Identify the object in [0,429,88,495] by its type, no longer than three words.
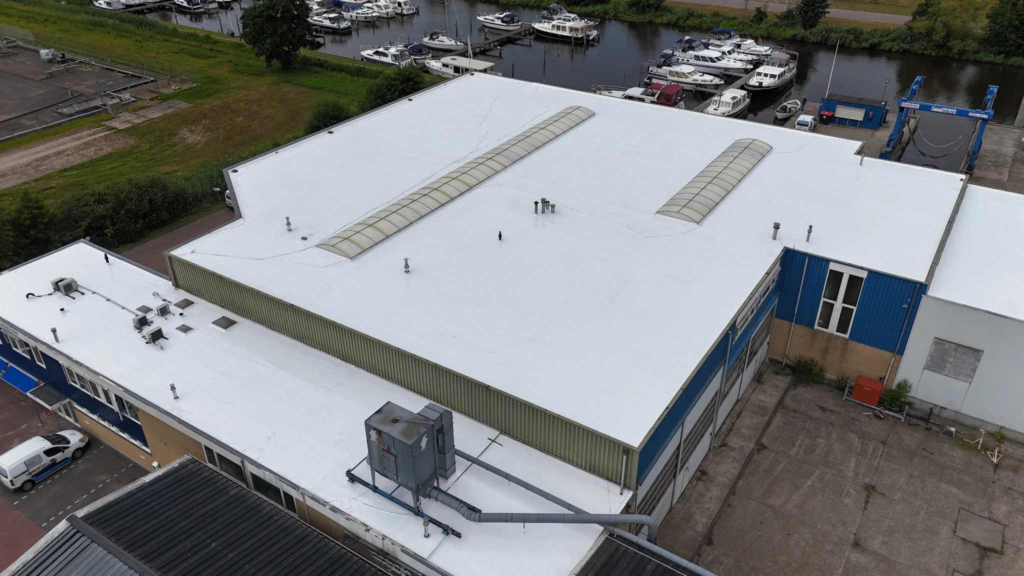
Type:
van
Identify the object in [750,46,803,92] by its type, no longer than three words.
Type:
boat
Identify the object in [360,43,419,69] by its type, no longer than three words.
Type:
boat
